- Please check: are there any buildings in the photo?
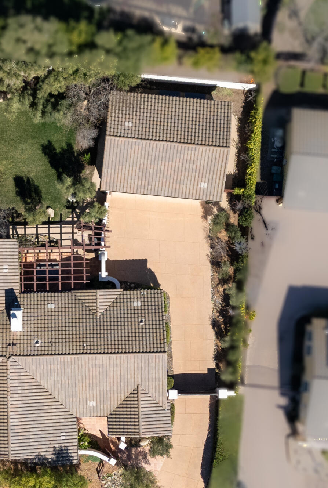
Yes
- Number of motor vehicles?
zero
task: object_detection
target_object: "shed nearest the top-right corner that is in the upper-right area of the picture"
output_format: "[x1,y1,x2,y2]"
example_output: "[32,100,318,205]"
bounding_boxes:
[226,0,260,42]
